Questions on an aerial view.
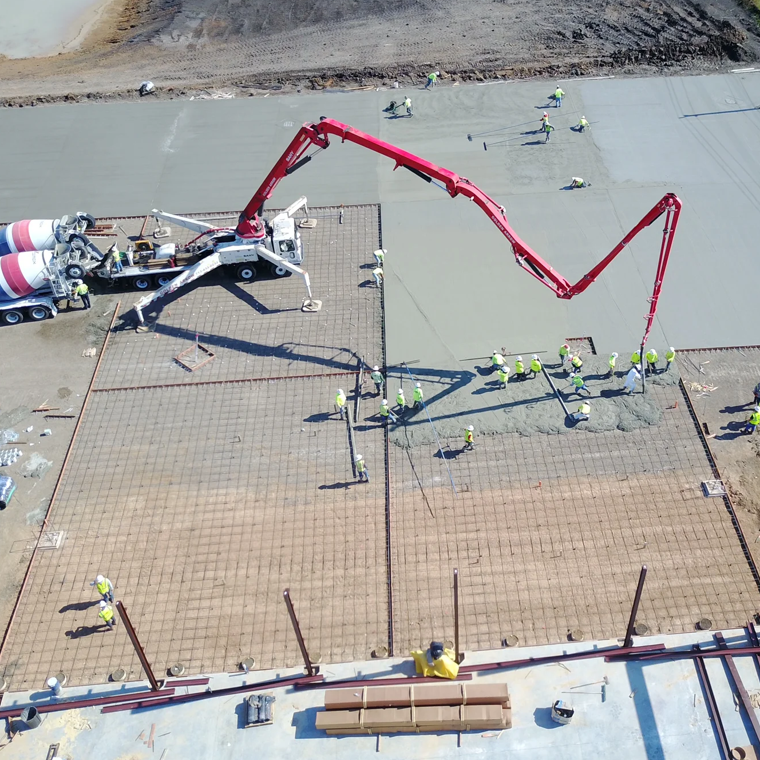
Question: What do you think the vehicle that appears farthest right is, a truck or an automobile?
truck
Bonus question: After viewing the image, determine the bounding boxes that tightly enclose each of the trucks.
[93,113,684,391]
[0,208,118,276]
[0,236,113,324]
